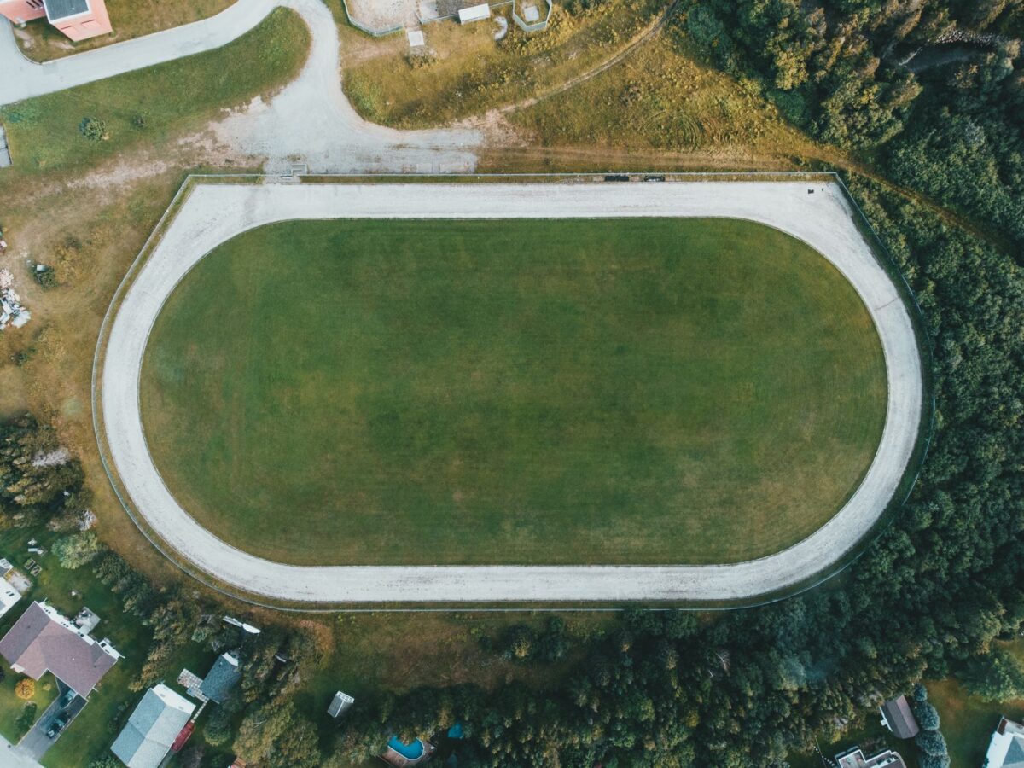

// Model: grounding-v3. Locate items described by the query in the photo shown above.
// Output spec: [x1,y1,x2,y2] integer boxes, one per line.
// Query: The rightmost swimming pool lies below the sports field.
[446,718,465,741]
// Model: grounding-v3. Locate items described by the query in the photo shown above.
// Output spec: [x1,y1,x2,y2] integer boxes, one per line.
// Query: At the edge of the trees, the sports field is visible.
[140,218,887,565]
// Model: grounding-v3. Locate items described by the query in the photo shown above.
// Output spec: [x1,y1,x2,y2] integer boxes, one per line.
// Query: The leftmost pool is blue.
[387,725,423,759]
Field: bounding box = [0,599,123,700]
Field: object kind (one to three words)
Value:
house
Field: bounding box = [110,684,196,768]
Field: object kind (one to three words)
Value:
house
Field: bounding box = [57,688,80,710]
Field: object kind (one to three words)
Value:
car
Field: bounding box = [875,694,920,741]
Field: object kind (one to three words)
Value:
shed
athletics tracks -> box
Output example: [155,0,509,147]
[102,181,923,602]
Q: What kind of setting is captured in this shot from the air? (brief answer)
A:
sports ground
